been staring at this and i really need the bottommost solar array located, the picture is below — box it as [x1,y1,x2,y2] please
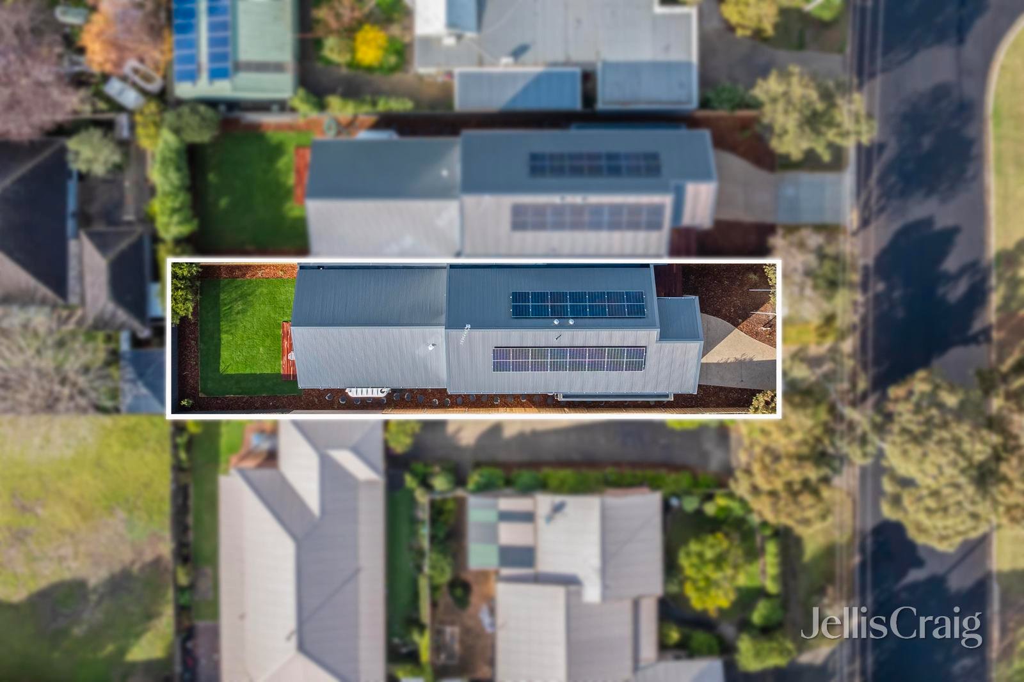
[491,348,646,373]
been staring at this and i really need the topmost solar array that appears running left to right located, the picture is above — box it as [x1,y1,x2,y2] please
[528,152,664,175]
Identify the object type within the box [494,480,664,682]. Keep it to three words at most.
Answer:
house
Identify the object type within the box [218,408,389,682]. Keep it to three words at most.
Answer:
house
